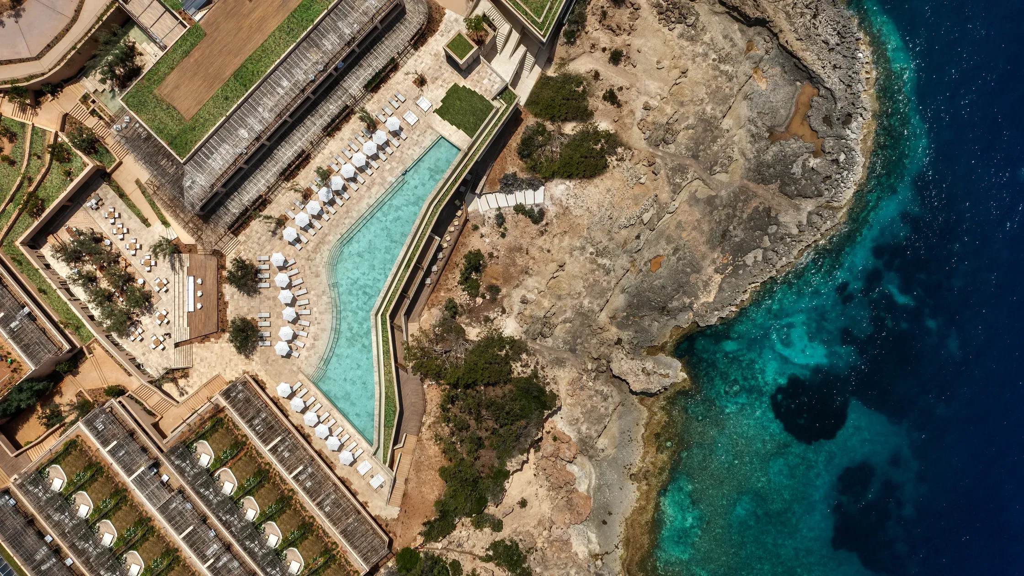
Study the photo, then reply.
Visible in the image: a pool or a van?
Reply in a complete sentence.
This aerial view contains a pool.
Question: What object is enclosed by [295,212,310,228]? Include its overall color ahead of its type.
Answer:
white umbrella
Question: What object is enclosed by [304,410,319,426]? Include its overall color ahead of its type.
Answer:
white umbrella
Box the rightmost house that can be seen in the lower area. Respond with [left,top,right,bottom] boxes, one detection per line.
[217,371,403,571]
